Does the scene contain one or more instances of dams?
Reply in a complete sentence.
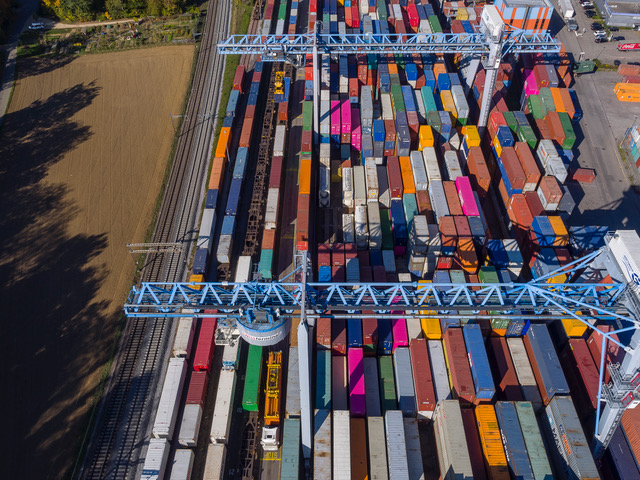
No, no dam can be seen from above.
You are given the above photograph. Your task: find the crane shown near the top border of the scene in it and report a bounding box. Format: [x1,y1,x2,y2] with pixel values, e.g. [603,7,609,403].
[211,0,562,152]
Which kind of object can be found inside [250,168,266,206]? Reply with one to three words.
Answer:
rail car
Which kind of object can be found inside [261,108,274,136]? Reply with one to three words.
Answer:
rail car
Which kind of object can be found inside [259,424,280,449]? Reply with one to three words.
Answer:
vehicle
